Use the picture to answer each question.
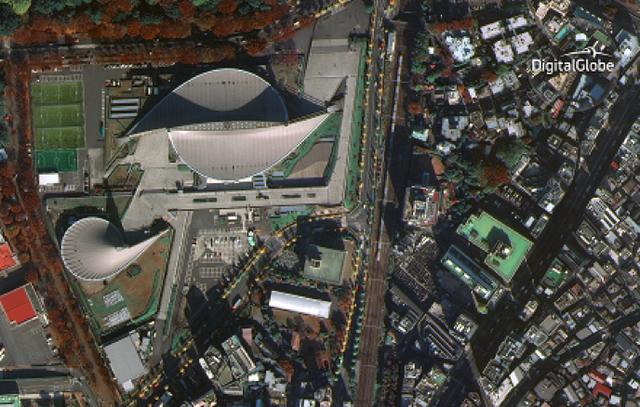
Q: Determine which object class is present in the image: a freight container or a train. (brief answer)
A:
train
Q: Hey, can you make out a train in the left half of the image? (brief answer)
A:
No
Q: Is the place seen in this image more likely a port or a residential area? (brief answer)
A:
residential area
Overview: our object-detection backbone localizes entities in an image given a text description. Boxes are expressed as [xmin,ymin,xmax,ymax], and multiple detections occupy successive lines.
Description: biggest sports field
[31,65,150,194]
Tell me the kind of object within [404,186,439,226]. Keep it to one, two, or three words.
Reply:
building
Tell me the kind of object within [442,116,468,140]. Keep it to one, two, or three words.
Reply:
building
